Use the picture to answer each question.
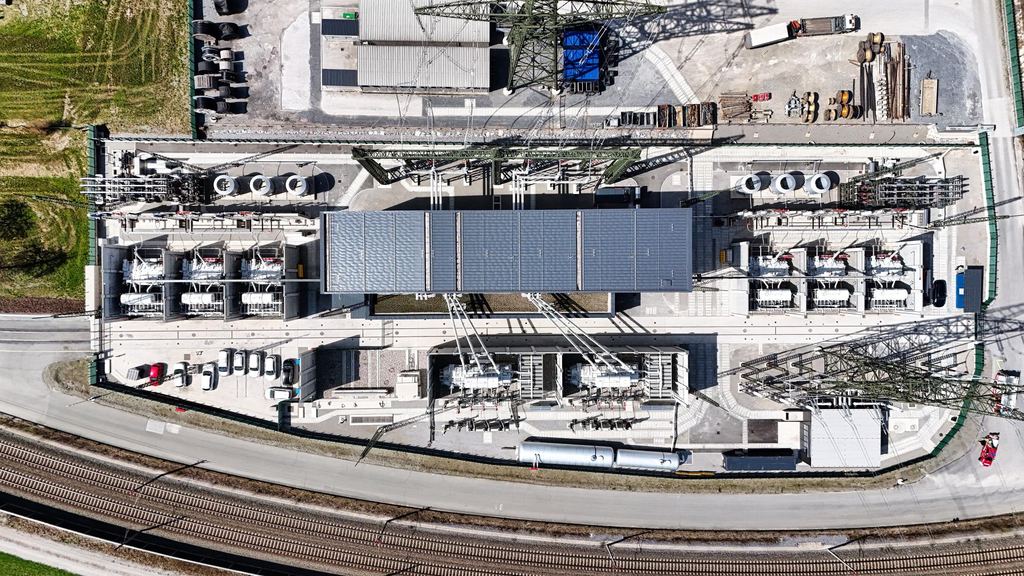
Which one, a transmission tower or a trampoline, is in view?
transmission tower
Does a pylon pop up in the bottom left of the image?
No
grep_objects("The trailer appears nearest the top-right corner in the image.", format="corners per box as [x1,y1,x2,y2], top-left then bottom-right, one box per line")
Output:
[919,69,939,116]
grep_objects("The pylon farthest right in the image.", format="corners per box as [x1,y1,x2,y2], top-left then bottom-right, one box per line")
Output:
[805,343,1024,429]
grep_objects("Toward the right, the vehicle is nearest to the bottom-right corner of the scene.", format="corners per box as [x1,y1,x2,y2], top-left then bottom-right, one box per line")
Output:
[975,430,999,468]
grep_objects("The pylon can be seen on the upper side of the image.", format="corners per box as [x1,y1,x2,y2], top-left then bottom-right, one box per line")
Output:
[410,0,670,97]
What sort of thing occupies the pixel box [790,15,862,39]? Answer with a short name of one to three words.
truck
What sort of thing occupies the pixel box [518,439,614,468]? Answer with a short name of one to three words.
storage tank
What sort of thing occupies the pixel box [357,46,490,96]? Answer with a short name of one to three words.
shed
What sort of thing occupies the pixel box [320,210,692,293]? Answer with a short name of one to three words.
building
